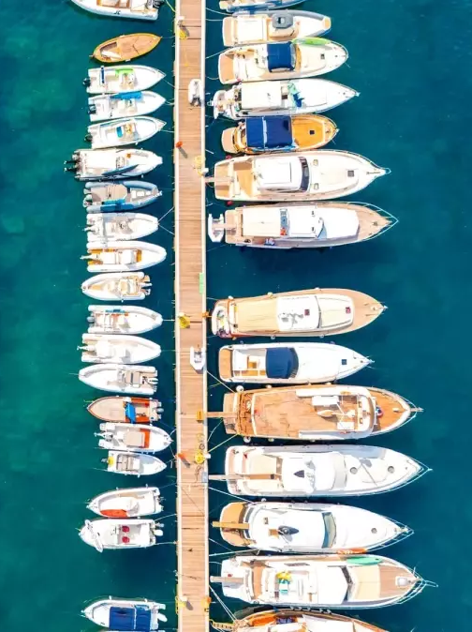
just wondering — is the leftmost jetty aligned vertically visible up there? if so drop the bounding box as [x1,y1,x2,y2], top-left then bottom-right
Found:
[172,0,209,632]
